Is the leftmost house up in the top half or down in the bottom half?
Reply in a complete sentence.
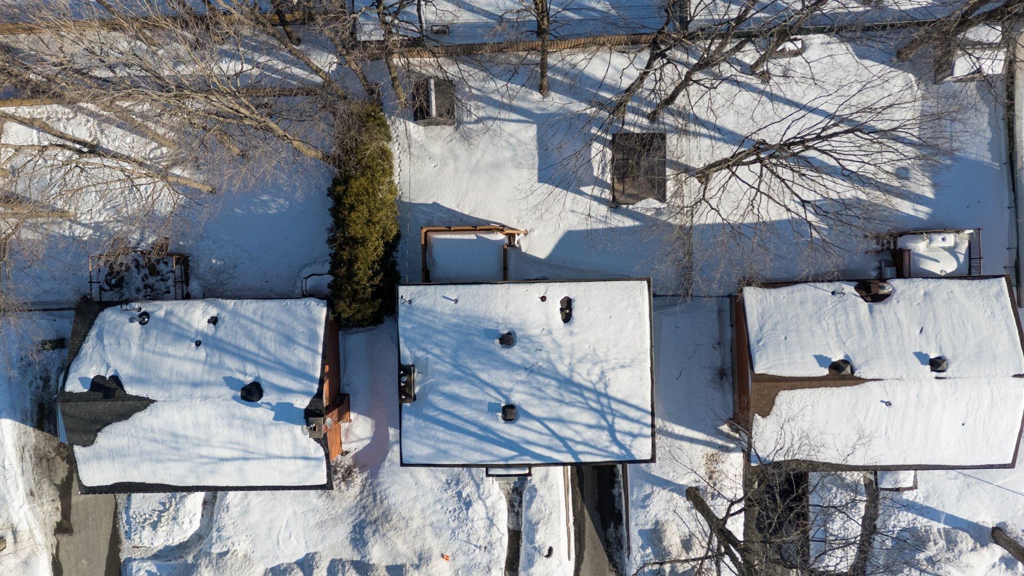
It is in the bottom half that the leftmost house appears.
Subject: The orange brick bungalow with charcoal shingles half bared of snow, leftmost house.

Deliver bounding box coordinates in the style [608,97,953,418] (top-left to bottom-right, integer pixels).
[58,298,347,496]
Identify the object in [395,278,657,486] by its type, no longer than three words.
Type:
house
